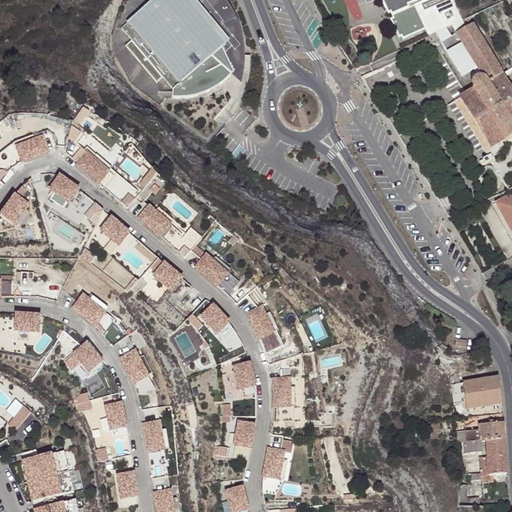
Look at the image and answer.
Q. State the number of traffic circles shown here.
1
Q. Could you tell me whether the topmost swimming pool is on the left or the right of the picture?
left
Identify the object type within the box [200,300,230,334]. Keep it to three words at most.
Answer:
house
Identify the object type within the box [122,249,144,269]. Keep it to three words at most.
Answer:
swimming pool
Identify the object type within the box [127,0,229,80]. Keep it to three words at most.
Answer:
building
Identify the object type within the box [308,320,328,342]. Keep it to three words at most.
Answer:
swimming pool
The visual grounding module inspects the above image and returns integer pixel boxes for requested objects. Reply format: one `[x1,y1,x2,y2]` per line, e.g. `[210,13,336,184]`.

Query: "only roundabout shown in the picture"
[265,70,336,142]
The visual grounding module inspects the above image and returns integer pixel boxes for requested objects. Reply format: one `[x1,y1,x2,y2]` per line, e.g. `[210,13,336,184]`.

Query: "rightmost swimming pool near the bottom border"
[281,482,302,497]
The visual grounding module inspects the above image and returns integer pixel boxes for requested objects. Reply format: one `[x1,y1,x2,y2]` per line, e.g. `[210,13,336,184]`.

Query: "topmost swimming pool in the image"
[120,156,142,181]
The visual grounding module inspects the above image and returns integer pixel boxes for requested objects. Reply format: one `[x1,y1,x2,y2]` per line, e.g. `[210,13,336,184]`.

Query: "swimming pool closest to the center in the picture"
[208,228,224,244]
